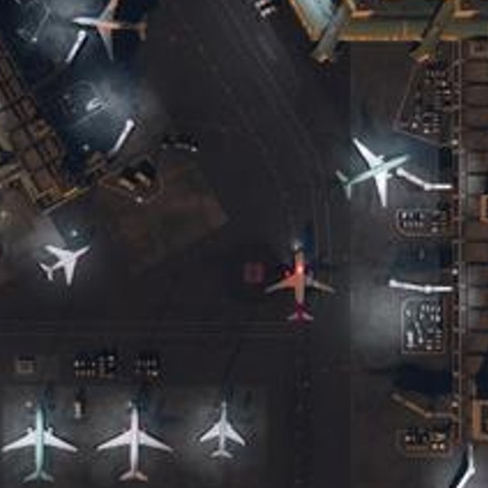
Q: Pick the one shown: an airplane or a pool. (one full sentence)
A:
The one in the frame is an airplane.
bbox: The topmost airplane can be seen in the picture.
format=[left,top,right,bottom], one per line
[73,0,149,60]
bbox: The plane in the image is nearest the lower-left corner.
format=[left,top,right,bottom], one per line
[0,408,77,486]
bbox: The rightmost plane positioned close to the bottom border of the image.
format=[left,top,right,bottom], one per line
[199,403,247,467]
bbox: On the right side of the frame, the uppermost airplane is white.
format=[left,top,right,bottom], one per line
[335,138,408,205]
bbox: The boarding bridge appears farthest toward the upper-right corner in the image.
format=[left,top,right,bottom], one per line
[395,166,450,190]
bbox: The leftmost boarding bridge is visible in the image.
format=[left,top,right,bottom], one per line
[52,28,88,76]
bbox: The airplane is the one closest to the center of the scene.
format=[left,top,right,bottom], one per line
[265,250,336,322]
